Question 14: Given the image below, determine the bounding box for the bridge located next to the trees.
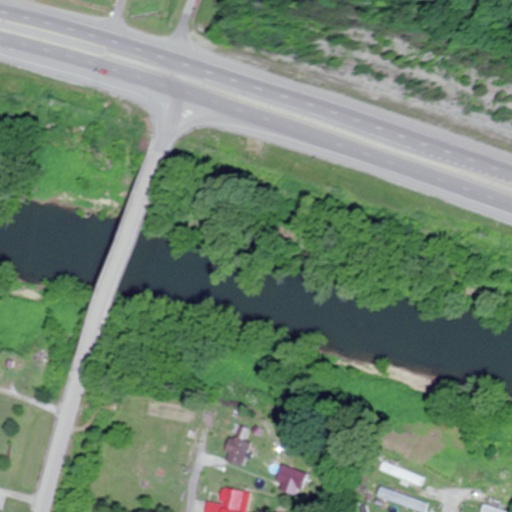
[78,152,164,347]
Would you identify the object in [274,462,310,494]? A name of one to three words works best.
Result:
house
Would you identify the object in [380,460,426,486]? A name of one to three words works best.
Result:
house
